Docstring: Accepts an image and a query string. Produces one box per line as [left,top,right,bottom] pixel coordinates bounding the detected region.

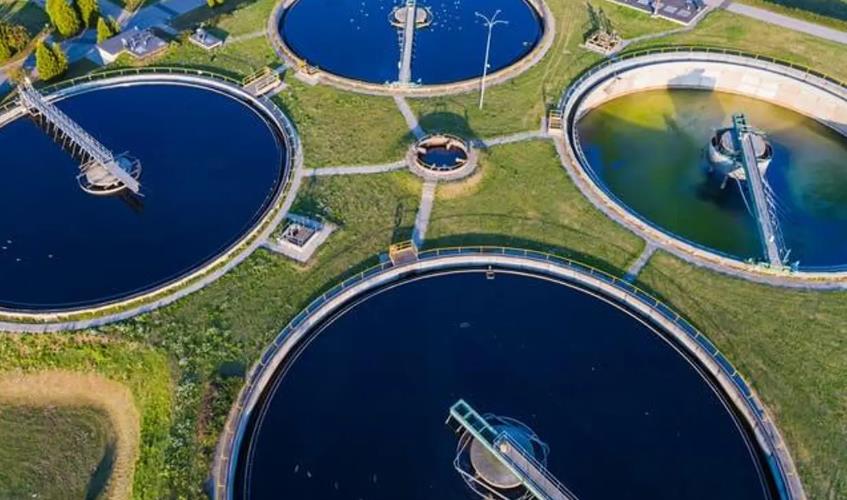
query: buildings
[603,0,709,26]
[96,26,173,66]
[189,31,225,54]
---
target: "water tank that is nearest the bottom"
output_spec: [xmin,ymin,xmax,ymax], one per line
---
[217,243,800,500]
